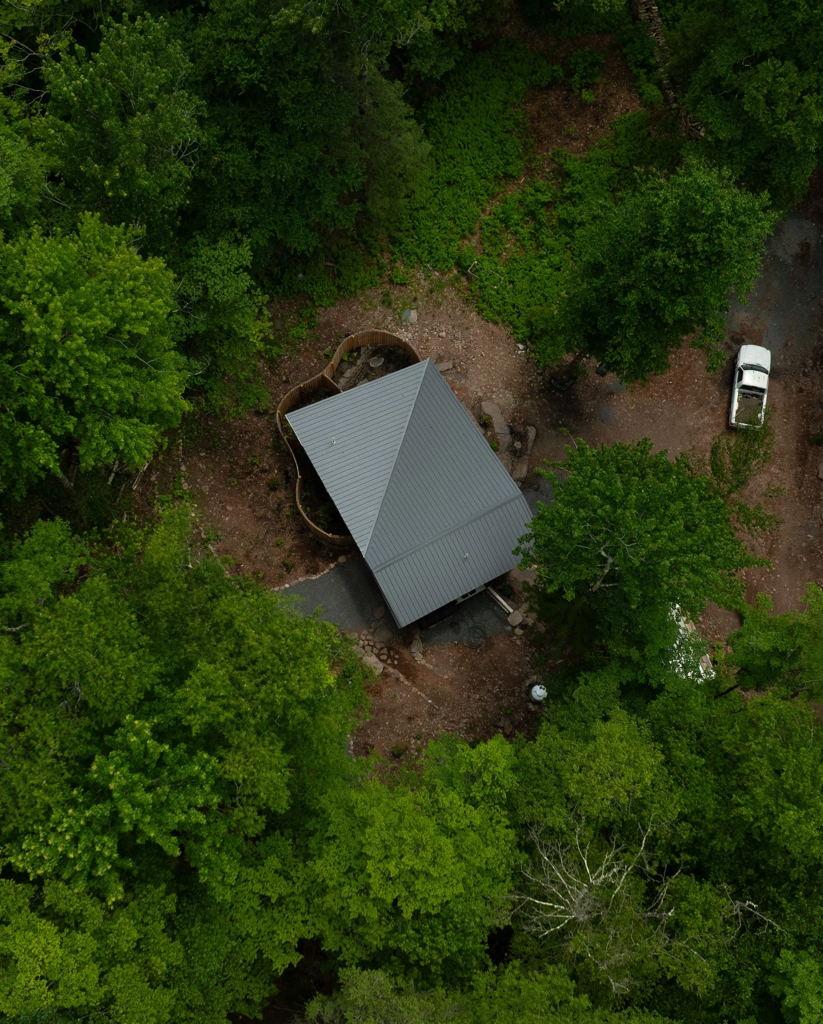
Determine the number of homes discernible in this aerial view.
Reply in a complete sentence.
The picture shows just 1 home.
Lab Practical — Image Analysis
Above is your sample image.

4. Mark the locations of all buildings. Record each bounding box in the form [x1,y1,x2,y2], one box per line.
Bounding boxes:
[287,357,548,629]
